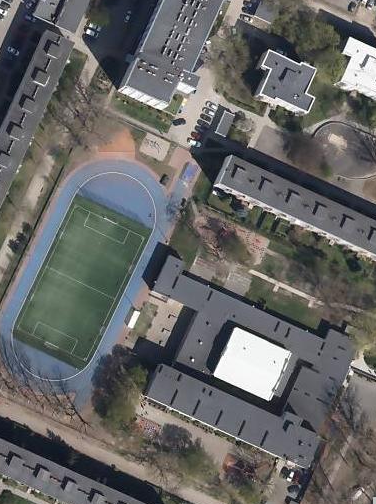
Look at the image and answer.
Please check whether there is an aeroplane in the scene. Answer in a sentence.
No, the frame has no aeroplane in it.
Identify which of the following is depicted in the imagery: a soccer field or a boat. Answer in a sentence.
Visible in the photo is a soccer field.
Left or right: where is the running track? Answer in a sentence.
The running track appears in the left half of the scene.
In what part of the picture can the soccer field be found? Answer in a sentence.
The soccer field sits in the left section of the image.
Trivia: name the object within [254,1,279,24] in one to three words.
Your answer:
shed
